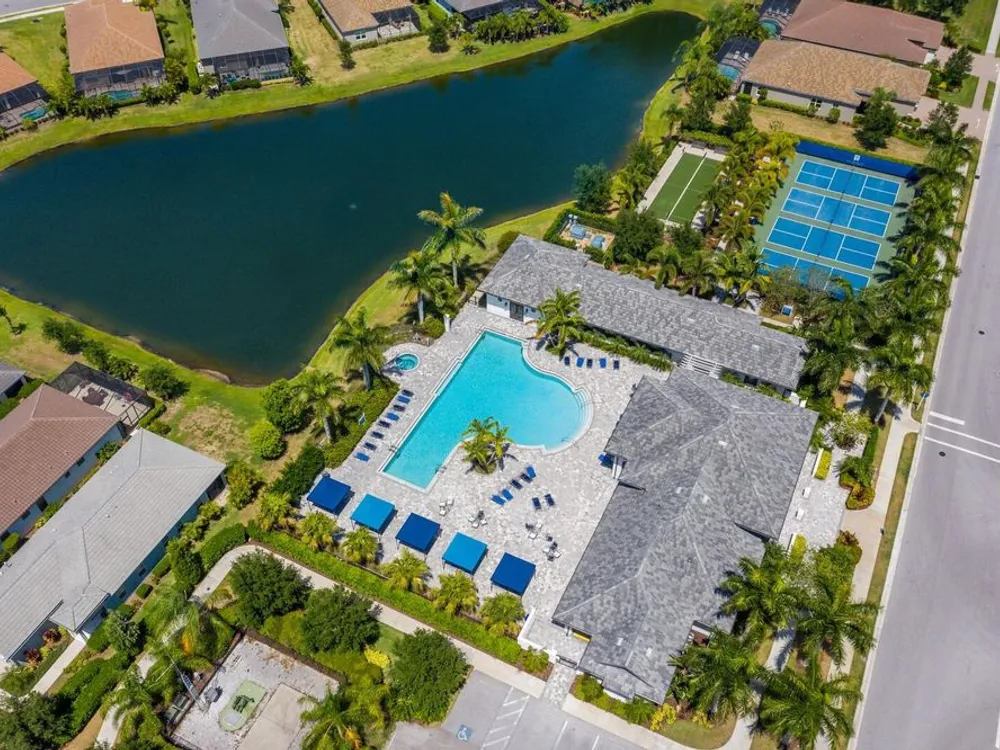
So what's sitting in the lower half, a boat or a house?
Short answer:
house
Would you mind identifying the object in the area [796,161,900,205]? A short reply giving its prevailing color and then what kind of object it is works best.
blue sports court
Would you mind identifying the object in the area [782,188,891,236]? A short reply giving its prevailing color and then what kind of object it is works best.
blue sports court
